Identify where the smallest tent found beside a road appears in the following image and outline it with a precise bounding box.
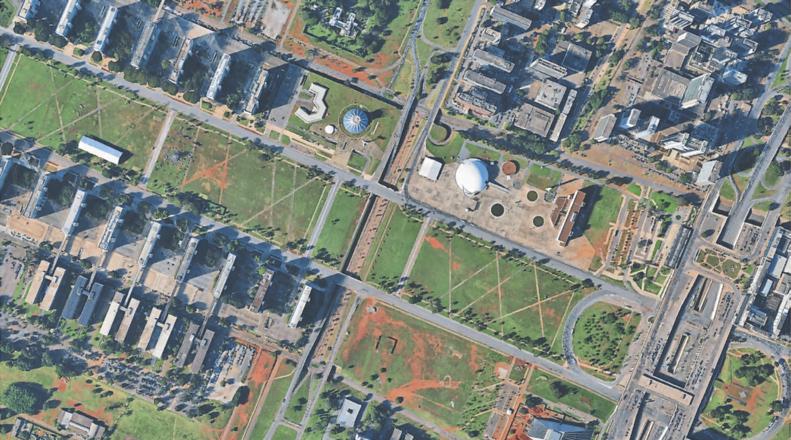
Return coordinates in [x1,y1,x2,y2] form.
[419,157,443,181]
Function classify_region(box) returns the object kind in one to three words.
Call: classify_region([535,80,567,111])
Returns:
building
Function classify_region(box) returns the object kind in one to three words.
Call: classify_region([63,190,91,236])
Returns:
building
